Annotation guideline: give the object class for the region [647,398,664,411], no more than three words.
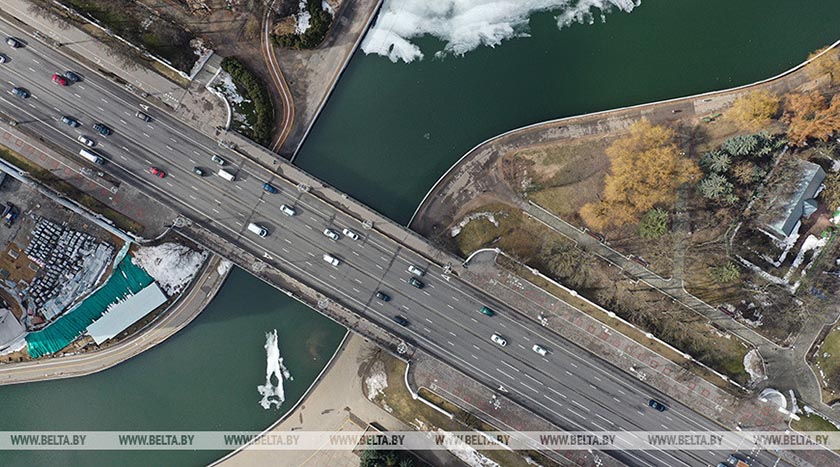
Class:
vehicle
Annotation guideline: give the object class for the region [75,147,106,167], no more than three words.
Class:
vehicle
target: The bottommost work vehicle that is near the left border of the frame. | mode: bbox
[4,202,22,221]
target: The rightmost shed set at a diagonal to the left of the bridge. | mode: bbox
[86,282,170,346]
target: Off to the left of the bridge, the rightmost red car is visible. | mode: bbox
[150,166,167,178]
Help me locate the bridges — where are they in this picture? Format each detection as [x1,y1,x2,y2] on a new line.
[171,126,467,364]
